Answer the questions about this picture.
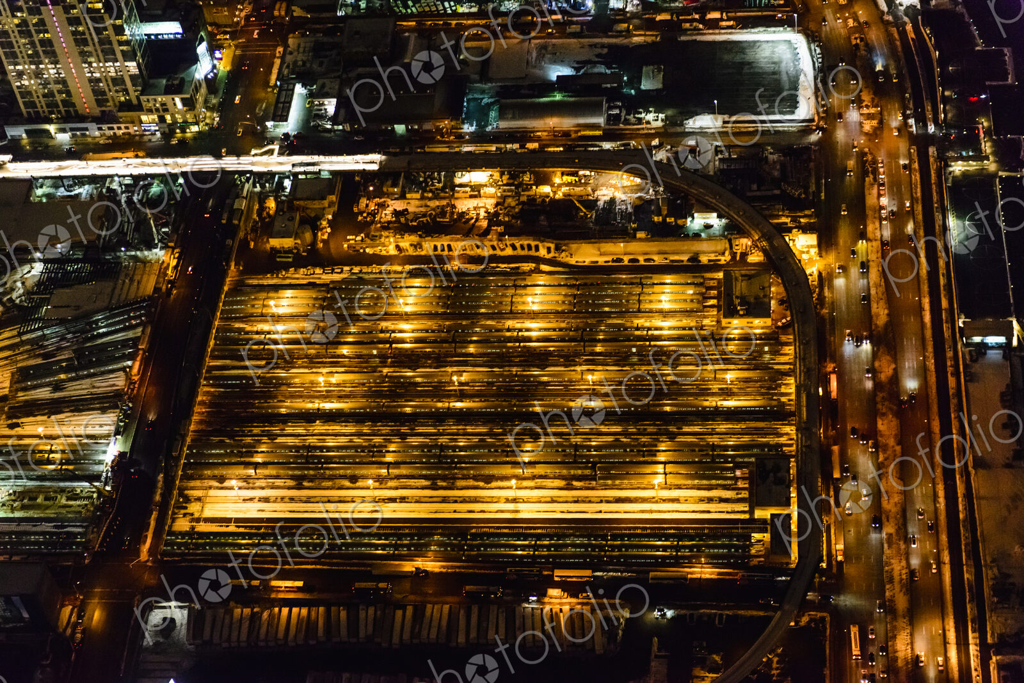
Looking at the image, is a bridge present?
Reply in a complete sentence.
Yes, this view includes a bridge.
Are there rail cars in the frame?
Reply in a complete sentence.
Yes, a rail car is visible in the scene.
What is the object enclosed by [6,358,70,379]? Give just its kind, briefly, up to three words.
rail car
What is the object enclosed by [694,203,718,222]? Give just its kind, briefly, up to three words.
building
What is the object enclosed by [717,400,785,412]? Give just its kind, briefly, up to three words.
rail car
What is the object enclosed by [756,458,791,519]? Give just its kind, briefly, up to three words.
building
